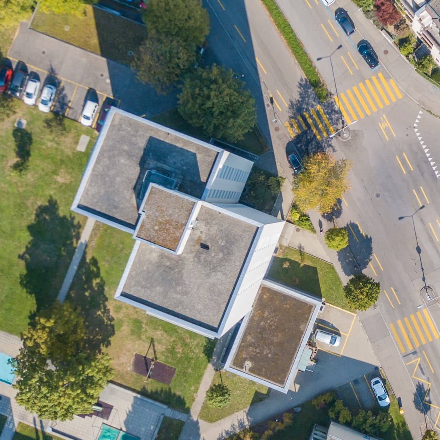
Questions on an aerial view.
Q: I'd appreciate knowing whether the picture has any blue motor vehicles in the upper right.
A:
Yes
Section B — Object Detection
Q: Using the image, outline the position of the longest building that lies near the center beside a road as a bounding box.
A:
[71,108,323,394]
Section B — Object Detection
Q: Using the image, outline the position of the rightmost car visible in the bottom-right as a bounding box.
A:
[370,376,390,408]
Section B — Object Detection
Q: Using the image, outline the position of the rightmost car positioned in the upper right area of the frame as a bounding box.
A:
[356,38,381,71]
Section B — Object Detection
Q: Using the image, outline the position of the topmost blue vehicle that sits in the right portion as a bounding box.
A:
[334,6,356,37]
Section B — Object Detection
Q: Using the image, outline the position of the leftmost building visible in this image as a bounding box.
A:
[30,0,150,67]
